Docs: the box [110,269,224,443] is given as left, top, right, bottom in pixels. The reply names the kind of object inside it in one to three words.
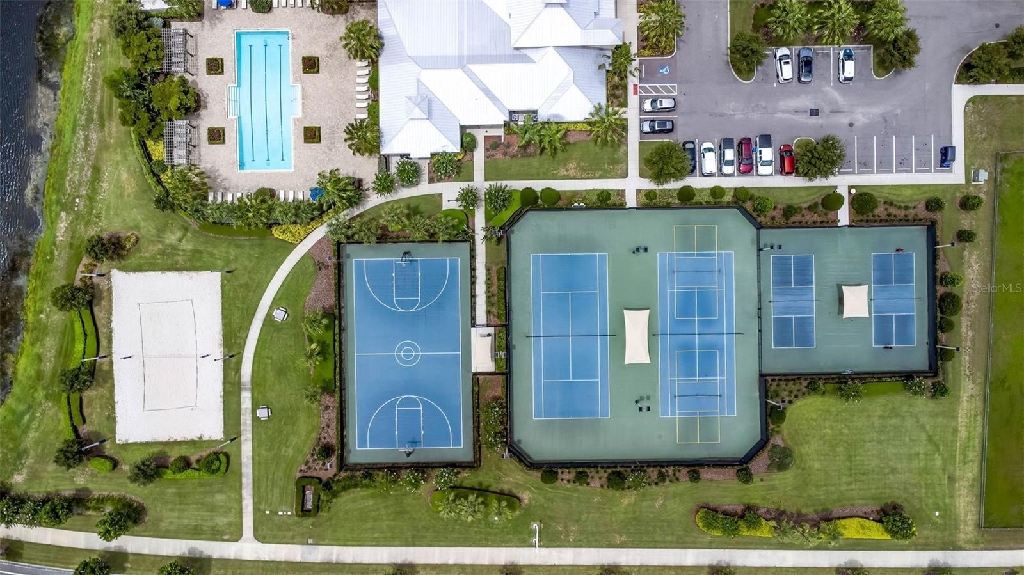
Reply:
sports court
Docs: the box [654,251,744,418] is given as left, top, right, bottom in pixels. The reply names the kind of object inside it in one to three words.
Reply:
tennis court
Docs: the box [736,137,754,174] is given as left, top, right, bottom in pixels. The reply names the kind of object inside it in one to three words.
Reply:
car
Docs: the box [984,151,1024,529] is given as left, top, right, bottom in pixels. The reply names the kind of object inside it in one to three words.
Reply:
sports field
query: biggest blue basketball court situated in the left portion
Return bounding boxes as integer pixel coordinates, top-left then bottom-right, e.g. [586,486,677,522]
[353,257,462,450]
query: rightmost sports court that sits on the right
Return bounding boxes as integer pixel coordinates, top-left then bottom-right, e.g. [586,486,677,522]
[872,253,916,346]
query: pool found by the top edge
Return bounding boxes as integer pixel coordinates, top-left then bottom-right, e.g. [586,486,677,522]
[221,28,306,173]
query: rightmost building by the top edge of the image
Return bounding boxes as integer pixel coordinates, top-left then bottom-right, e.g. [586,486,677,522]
[378,0,622,156]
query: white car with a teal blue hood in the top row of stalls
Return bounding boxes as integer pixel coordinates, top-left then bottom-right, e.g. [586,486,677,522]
[837,49,855,83]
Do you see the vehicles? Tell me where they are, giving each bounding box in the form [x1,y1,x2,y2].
[642,96,676,112]
[755,133,774,175]
[682,141,698,175]
[699,143,716,176]
[736,137,754,174]
[719,137,736,175]
[640,118,674,134]
[778,144,795,176]
[774,48,792,83]
[939,145,956,167]
[837,49,855,83]
[796,48,814,83]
